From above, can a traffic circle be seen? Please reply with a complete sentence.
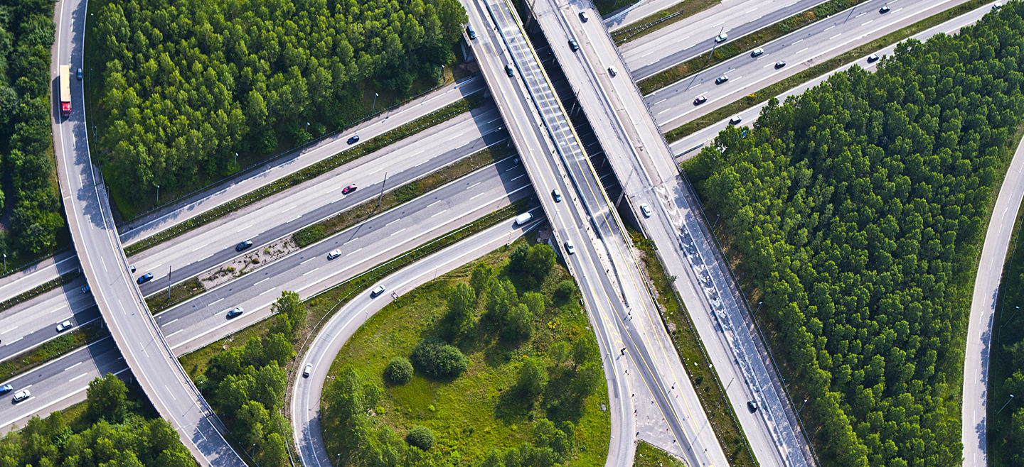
No, there is no traffic circle in the image.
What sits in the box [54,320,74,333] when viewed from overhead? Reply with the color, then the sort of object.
white vehicle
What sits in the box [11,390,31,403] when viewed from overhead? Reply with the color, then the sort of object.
white vehicle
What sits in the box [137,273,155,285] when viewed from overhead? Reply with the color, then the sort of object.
blue vehicle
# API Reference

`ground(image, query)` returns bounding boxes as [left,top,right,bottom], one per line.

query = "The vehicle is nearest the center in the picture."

[515,212,535,226]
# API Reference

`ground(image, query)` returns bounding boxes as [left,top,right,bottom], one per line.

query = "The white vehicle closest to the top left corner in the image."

[60,66,72,121]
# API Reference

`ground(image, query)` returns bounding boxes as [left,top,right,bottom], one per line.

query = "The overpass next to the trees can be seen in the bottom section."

[62,167,222,440]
